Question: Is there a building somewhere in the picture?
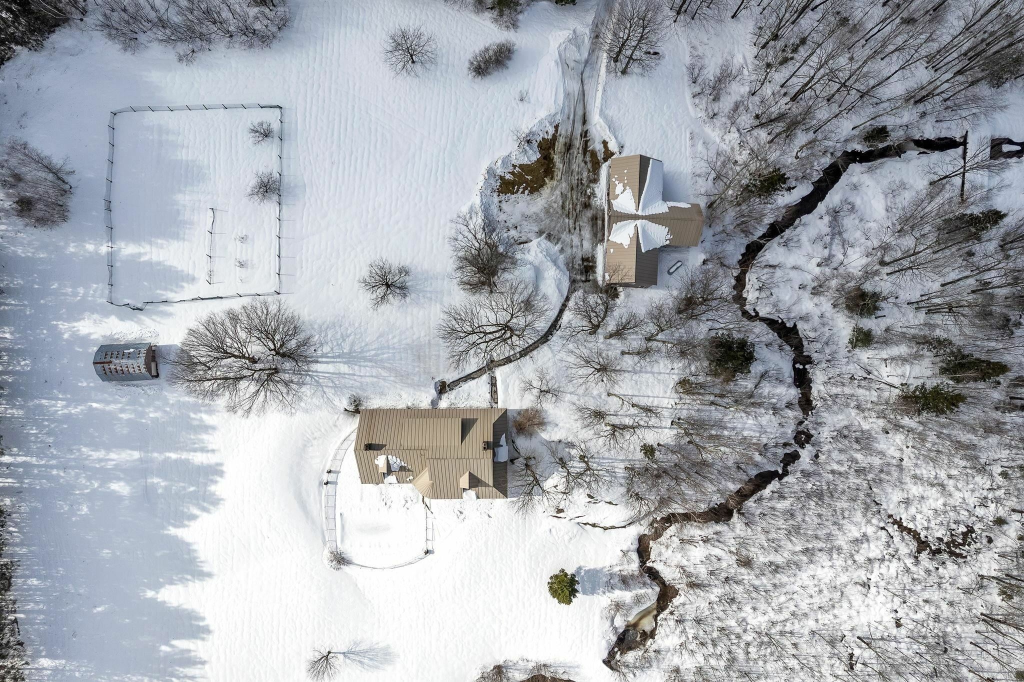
Yes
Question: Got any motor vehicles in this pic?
No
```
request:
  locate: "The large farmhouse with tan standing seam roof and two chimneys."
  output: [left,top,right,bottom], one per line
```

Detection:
[354,409,508,499]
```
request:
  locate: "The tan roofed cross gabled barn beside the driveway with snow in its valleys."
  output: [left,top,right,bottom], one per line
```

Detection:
[605,154,705,285]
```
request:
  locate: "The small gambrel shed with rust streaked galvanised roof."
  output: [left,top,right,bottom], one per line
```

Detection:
[92,342,158,381]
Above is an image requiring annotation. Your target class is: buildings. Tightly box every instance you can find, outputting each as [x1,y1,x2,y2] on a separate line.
[605,154,705,285]
[354,409,508,499]
[92,342,158,381]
